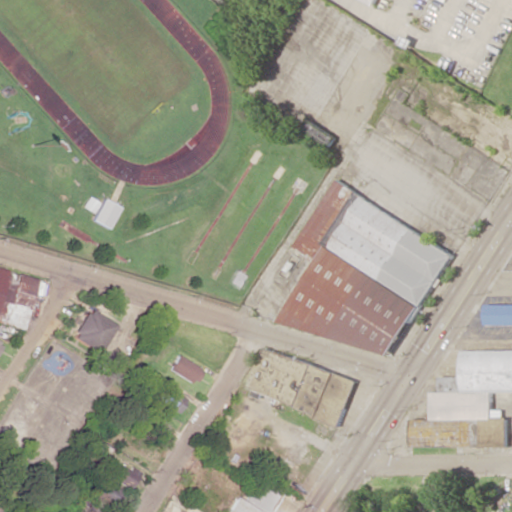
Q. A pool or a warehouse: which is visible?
warehouse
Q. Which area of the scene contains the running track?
top left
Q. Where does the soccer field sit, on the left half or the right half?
left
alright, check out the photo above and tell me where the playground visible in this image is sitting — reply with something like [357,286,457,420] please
[42,352,75,376]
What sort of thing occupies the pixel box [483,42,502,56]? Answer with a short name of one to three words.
vehicle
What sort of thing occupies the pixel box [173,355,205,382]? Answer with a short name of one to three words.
house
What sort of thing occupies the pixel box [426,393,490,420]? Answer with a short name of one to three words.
building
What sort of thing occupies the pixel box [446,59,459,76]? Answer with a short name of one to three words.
vehicle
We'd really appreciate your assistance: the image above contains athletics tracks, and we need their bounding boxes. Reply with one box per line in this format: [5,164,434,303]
[0,0,231,187]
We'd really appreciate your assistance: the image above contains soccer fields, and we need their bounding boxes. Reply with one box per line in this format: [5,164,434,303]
[0,0,210,164]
